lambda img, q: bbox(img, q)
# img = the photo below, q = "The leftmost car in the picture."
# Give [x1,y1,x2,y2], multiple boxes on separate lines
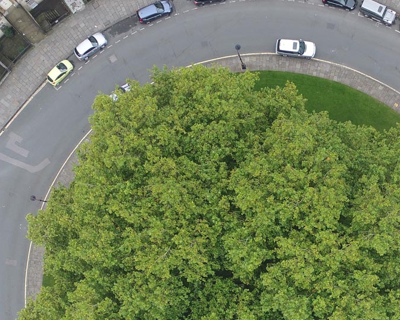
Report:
[45,58,74,88]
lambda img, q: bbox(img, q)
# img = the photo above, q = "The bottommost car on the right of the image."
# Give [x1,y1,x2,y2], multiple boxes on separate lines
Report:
[274,38,316,59]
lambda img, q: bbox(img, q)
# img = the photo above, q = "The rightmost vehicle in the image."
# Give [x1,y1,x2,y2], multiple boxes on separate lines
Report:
[359,1,397,26]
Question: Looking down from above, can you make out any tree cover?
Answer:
Yes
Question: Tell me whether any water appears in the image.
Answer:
No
